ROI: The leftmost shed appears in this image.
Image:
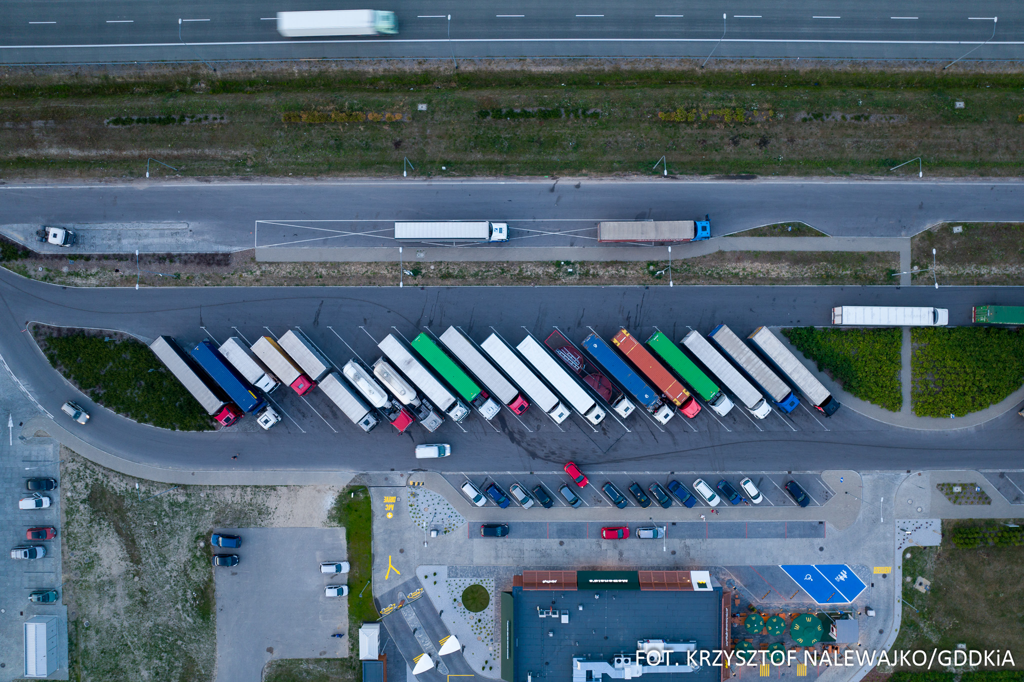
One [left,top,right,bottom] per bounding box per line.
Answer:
[24,616,58,677]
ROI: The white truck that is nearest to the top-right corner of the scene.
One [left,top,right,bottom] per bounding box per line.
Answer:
[832,305,945,326]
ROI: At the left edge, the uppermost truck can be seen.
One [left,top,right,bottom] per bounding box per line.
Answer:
[37,225,80,247]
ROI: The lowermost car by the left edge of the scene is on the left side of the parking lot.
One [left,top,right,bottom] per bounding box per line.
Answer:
[28,588,60,604]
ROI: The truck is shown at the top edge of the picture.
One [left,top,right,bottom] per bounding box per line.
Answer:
[277,9,399,39]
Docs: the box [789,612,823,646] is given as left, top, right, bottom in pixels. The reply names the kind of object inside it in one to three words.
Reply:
umbrella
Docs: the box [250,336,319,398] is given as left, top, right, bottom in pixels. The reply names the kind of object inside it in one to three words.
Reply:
truck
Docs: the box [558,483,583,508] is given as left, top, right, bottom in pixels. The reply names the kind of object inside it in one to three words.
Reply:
car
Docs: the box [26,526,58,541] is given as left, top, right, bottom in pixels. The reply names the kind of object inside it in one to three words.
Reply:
car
